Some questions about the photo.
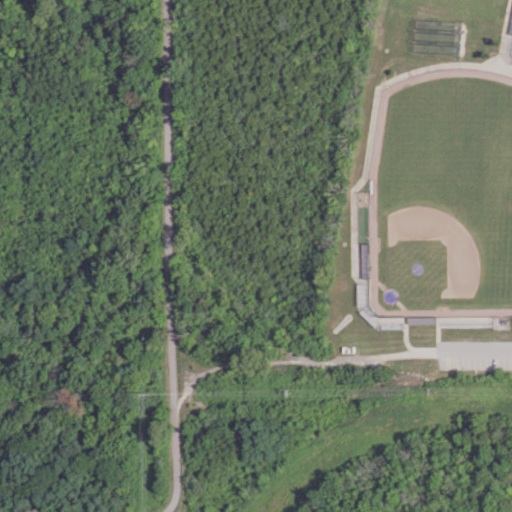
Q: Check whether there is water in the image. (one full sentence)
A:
No, no water is visible.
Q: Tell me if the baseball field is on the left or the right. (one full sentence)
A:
The baseball field appears in the right half of the scene.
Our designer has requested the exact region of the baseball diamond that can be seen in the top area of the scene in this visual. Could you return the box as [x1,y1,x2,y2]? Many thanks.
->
[358,70,512,317]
